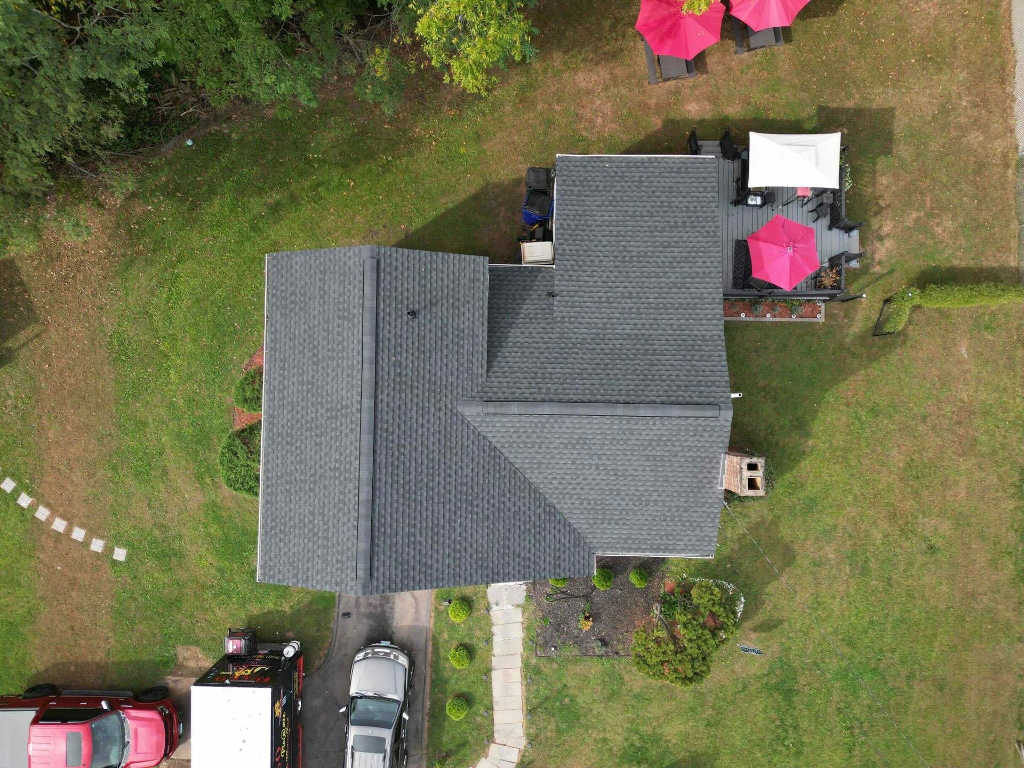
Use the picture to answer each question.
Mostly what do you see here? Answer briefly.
grass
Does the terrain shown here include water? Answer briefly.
No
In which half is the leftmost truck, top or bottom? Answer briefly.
bottom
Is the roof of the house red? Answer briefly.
No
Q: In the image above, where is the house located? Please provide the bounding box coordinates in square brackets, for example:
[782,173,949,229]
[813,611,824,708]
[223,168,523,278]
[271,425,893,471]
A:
[257,154,766,597]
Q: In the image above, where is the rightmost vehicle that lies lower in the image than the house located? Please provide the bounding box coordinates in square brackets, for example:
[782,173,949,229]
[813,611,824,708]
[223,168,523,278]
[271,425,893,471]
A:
[339,641,414,768]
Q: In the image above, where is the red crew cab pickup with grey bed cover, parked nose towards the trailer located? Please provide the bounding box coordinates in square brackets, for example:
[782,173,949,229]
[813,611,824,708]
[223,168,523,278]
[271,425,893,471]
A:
[0,690,188,768]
